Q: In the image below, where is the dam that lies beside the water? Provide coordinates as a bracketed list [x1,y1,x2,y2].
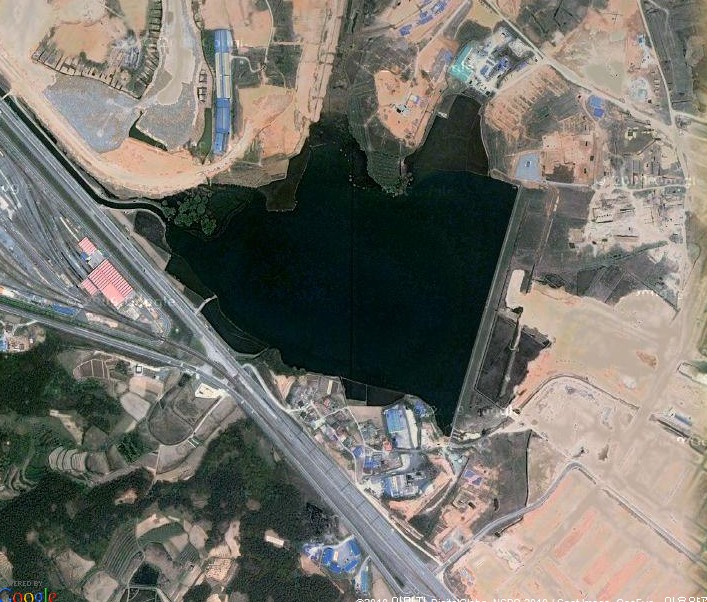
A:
[450,184,531,439]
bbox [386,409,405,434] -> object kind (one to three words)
building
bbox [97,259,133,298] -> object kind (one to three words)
building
